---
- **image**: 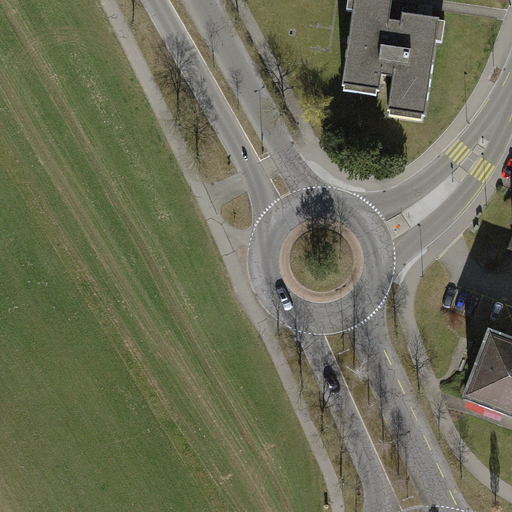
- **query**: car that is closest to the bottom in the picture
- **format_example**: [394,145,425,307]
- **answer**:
[324,370,340,393]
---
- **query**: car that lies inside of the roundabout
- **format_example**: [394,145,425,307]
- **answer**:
[277,287,294,311]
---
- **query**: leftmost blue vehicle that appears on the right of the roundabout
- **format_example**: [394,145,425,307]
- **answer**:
[455,290,468,311]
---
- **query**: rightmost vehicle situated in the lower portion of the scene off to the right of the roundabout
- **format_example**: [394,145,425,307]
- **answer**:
[490,300,504,322]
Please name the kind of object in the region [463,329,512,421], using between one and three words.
house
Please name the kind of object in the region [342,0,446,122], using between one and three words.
building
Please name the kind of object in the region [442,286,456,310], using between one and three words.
vehicle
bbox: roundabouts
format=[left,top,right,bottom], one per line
[248,186,396,336]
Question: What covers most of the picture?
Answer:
grass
